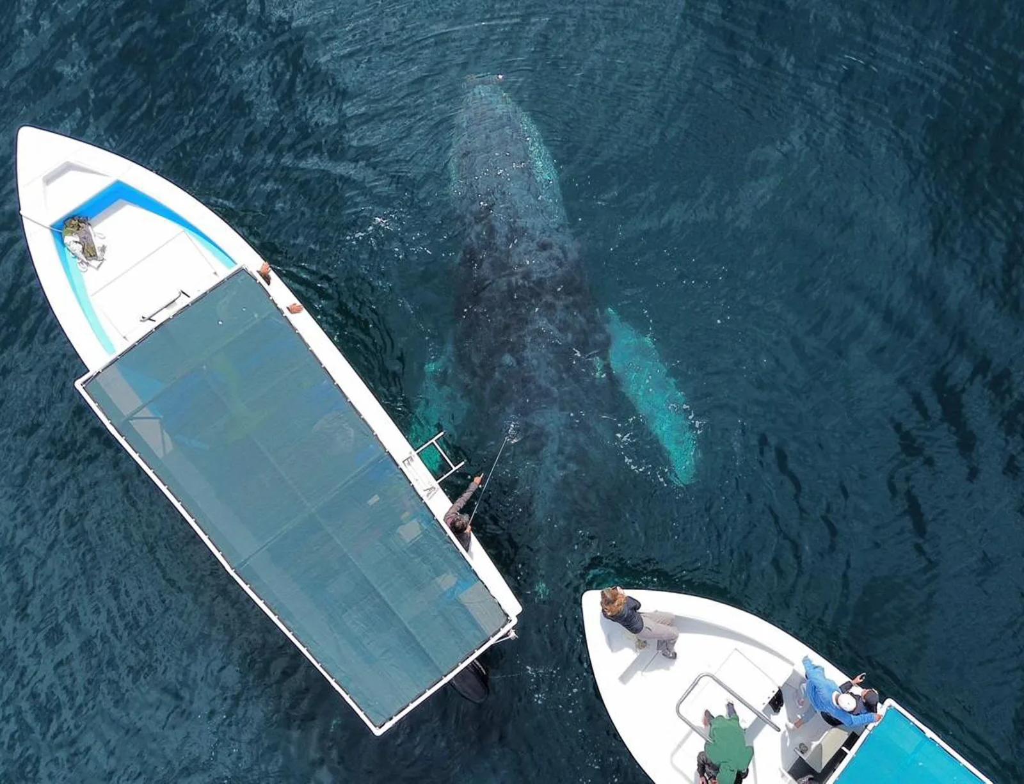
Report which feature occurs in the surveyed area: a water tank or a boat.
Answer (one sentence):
This aerial view contains a boat.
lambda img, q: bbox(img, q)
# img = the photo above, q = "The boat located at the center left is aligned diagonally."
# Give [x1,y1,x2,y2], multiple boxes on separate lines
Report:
[8,120,521,733]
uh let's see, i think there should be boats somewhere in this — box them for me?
[8,120,521,733]
[576,585,1005,784]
